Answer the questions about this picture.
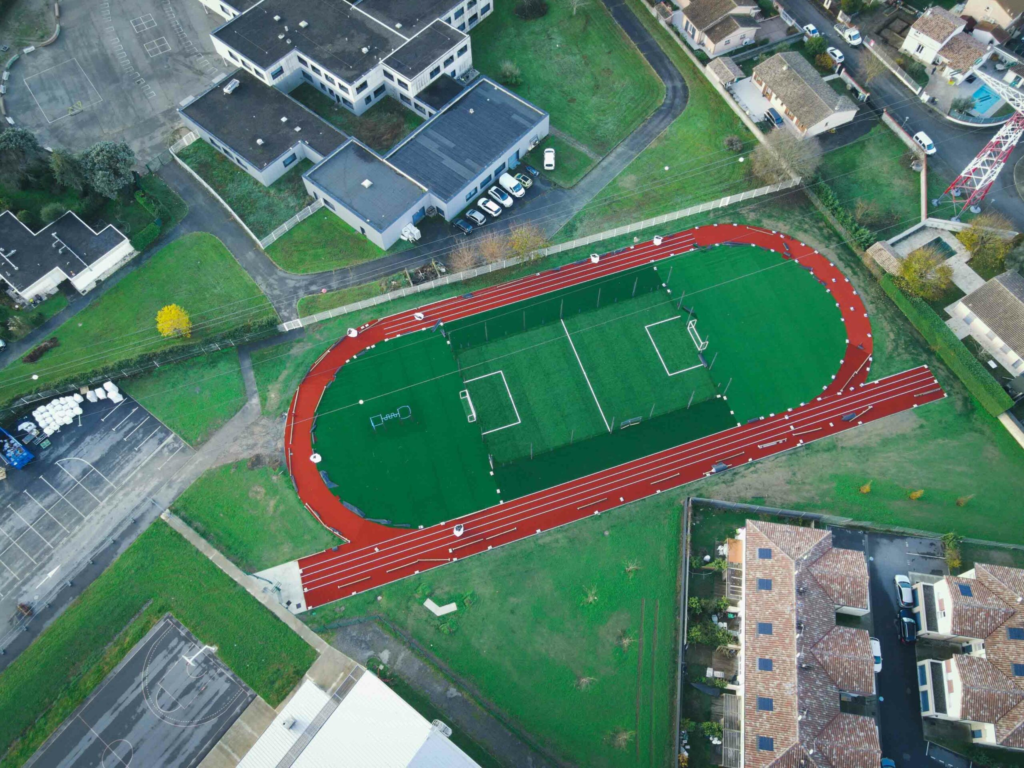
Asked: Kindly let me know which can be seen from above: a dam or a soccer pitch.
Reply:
soccer pitch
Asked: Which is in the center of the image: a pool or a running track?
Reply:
running track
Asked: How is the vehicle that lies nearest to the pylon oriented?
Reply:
diagonally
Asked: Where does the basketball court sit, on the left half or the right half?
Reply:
left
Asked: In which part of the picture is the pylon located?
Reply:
top right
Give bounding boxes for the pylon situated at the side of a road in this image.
[930,57,1024,218]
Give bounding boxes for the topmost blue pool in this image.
[972,85,1001,114]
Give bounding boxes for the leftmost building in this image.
[0,211,138,307]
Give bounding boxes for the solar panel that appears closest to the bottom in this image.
[756,736,774,751]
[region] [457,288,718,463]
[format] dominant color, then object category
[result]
green soccer field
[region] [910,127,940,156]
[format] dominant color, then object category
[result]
white vehicle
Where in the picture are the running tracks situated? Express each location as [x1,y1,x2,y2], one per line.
[284,224,947,610]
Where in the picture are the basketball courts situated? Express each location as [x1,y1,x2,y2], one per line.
[19,612,257,768]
